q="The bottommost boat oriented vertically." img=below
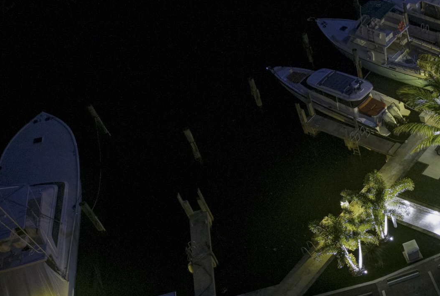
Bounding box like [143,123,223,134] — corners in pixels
[0,83,90,296]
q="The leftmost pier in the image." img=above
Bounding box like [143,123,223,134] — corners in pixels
[189,210,219,296]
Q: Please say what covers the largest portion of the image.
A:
water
